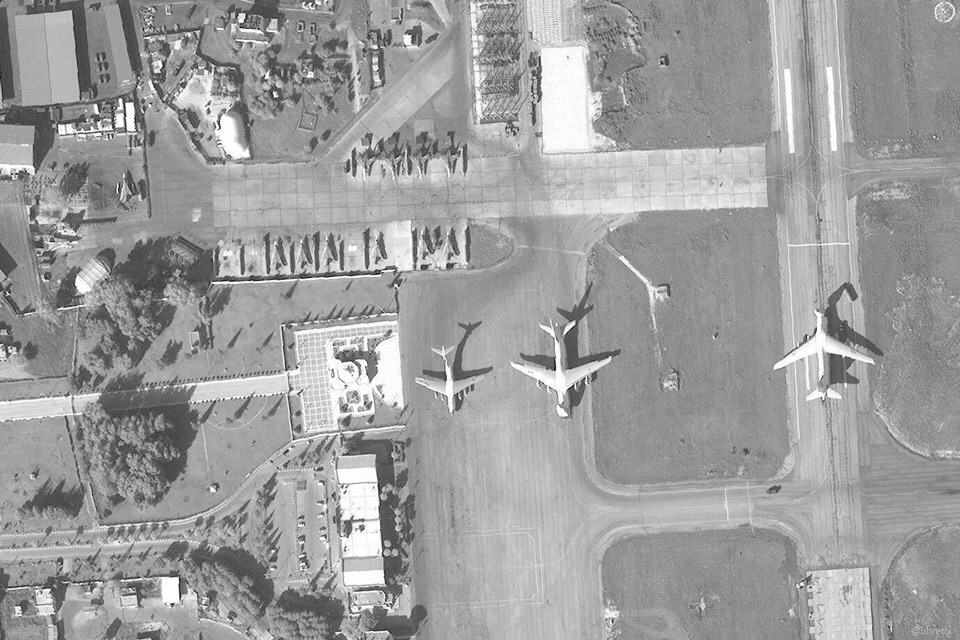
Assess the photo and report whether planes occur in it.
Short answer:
Yes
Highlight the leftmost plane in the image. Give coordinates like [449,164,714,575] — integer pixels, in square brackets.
[116,174,129,203]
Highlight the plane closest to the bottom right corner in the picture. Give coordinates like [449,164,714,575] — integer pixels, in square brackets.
[770,309,874,401]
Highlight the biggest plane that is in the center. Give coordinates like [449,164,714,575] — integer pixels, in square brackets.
[509,322,614,417]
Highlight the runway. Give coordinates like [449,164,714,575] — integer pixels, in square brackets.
[747,0,872,562]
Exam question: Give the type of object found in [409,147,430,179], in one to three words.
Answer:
airplane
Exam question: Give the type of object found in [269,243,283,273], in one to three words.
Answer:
airplane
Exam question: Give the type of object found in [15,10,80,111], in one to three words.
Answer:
hangar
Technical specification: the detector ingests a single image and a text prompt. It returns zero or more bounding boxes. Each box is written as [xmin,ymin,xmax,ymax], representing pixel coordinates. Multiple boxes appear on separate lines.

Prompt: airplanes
[770,309,874,401]
[370,233,384,263]
[509,322,614,417]
[295,241,309,271]
[409,147,430,179]
[413,344,484,413]
[382,148,403,179]
[321,238,335,267]
[442,233,456,263]
[116,174,129,203]
[352,149,374,180]
[438,145,459,176]
[415,232,429,262]
[269,243,283,273]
